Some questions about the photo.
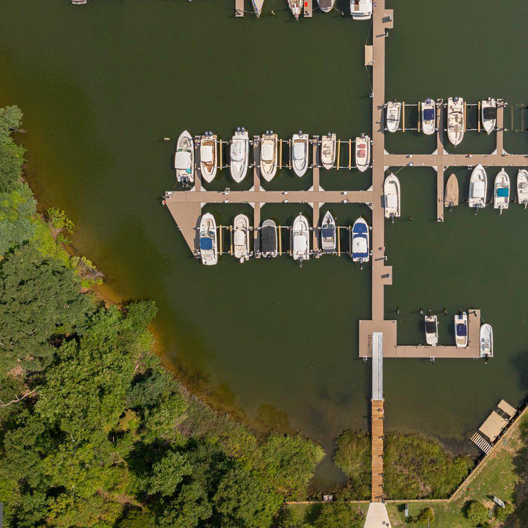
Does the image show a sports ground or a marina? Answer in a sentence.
What you see here is a marina.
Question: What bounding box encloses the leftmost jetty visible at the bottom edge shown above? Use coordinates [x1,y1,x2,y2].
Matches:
[370,398,384,503]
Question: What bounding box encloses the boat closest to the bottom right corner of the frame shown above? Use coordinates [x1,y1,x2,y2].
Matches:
[479,324,493,366]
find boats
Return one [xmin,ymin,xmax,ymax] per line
[200,213,218,265]
[355,126,370,172]
[232,214,250,261]
[261,130,278,182]
[448,94,464,149]
[173,130,195,191]
[292,130,309,177]
[516,170,528,213]
[386,98,401,133]
[425,304,438,345]
[421,98,436,135]
[230,130,249,182]
[454,312,468,348]
[445,174,459,215]
[481,96,497,135]
[292,213,310,270]
[286,0,302,21]
[261,219,278,261]
[352,217,369,270]
[350,0,372,22]
[321,210,336,252]
[321,131,336,170]
[494,169,510,218]
[317,0,335,13]
[479,324,493,366]
[468,165,488,217]
[384,175,401,228]
[201,131,217,182]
